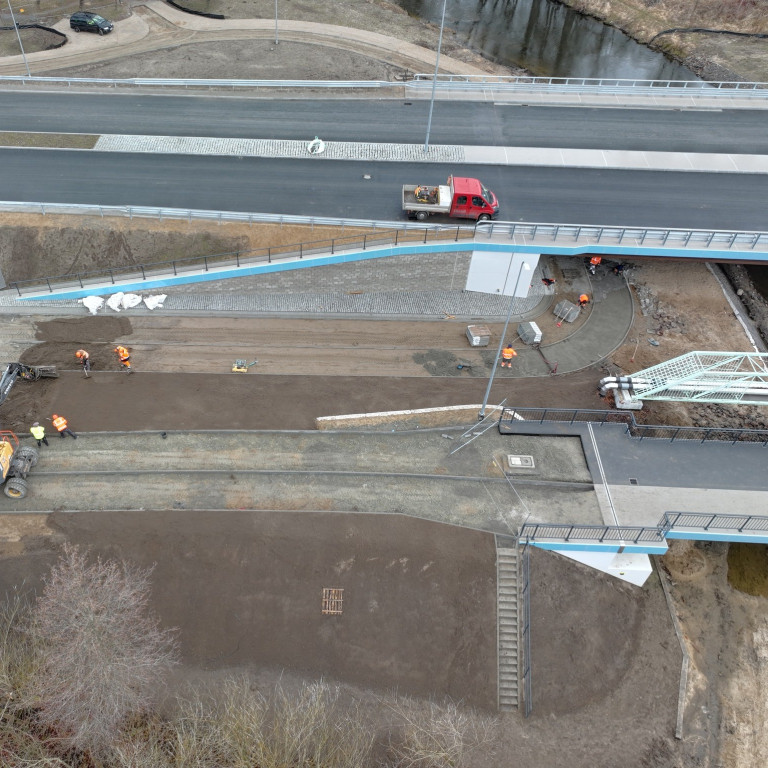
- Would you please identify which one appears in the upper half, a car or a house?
car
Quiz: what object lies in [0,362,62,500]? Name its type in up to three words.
work vehicle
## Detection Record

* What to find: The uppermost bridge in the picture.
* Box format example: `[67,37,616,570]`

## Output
[402,69,768,299]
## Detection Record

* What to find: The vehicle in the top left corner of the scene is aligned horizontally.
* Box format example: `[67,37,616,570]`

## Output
[64,10,117,39]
